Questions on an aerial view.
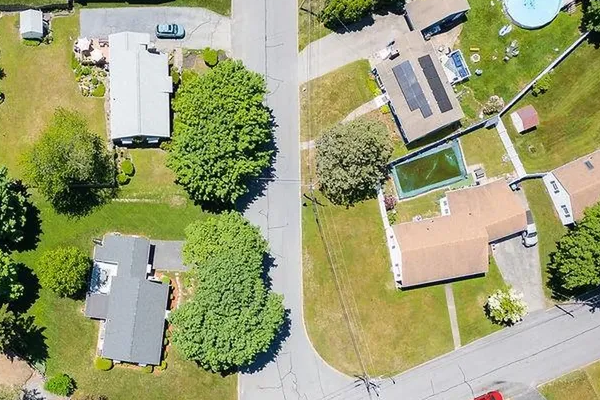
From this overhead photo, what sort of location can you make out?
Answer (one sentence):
This image shows a residential area.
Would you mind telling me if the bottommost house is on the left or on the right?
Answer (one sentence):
You can find the bottommost house on the left side of the picture.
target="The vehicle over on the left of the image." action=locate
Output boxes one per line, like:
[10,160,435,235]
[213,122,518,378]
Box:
[155,22,185,39]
